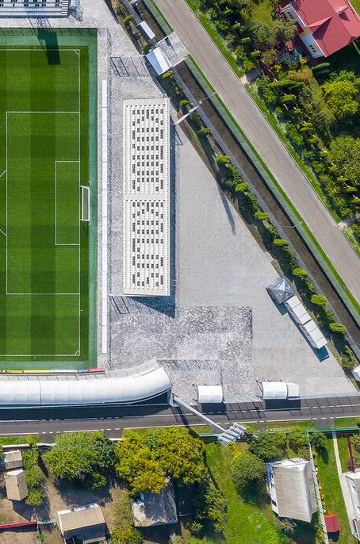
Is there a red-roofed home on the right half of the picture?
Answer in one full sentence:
Yes, a red-roofed home shows up on the right half of the picture.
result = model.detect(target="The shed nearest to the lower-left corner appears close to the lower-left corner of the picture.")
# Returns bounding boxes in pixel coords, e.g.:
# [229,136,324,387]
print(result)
[4,468,25,500]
